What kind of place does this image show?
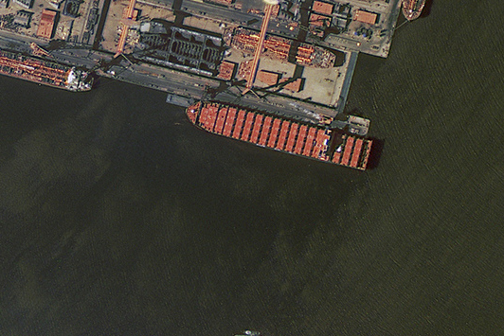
port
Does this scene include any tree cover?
No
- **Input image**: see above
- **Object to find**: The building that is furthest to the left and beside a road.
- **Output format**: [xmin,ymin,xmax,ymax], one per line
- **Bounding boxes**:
[37,10,57,41]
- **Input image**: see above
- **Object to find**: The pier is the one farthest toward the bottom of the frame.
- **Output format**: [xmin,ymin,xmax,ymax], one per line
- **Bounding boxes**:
[344,115,372,138]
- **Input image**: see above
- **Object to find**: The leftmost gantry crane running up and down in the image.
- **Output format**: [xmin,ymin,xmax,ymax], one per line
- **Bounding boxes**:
[104,0,137,64]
